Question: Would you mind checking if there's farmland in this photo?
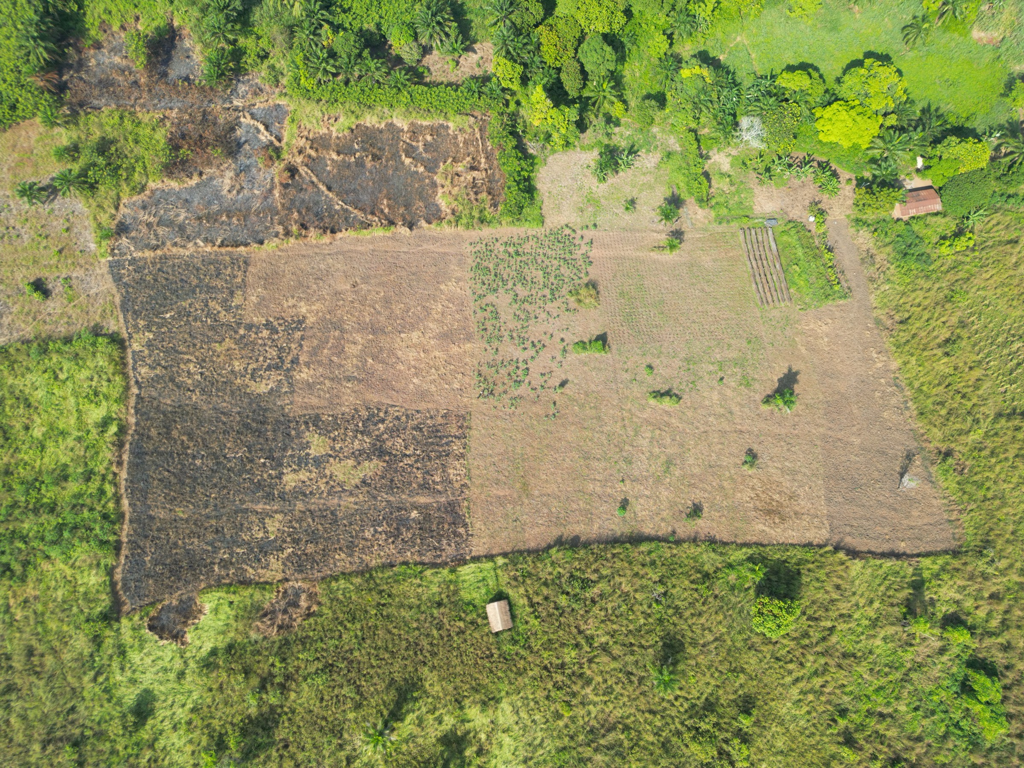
Yes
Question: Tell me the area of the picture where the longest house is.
top right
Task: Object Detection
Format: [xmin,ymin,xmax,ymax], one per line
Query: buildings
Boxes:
[484,599,516,631]
[894,189,942,219]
